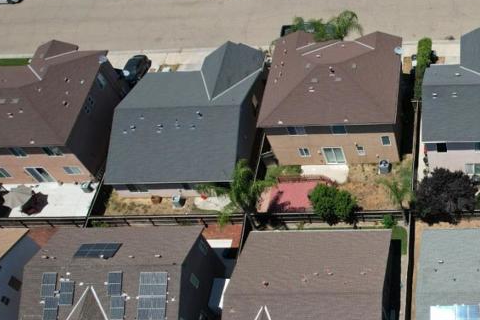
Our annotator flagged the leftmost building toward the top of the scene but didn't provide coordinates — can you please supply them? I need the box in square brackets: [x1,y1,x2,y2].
[0,36,128,179]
